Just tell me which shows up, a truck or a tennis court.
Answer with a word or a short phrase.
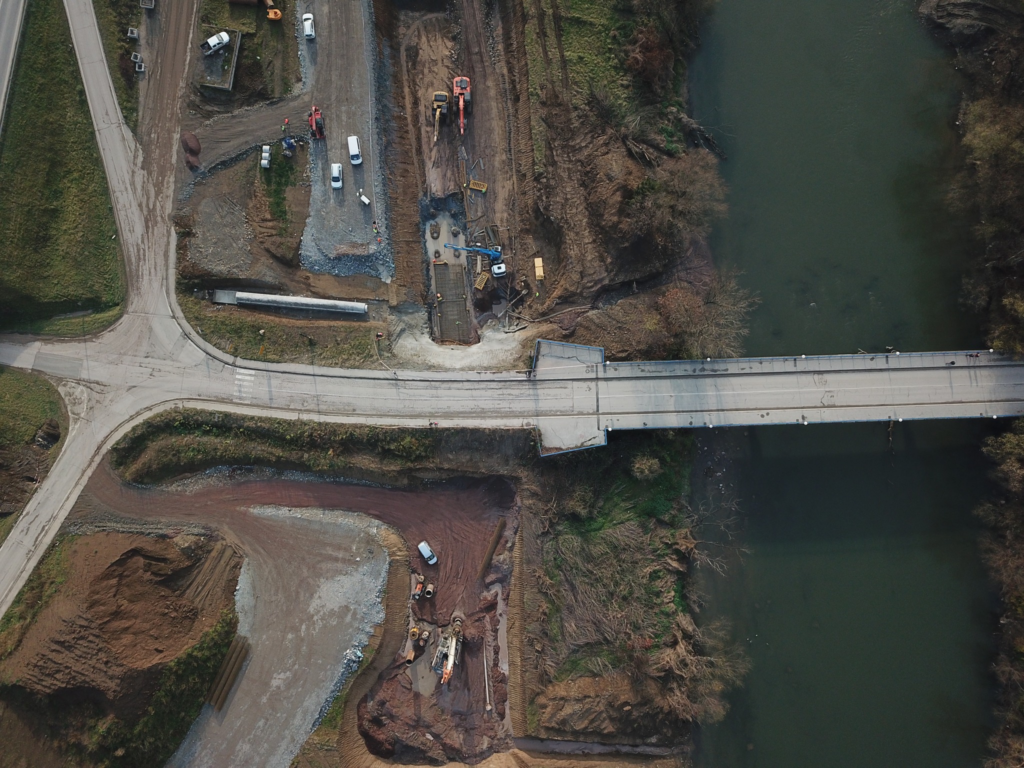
truck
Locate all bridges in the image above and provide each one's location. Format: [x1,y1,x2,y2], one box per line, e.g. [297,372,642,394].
[532,340,1024,456]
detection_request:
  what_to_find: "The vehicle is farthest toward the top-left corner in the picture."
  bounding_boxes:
[199,32,231,56]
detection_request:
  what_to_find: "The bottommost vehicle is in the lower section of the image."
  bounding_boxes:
[412,582,425,603]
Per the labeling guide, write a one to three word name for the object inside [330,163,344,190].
car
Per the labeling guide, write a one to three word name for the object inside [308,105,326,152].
work vehicle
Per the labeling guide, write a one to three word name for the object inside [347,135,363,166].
vehicle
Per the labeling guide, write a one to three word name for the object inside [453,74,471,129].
work vehicle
